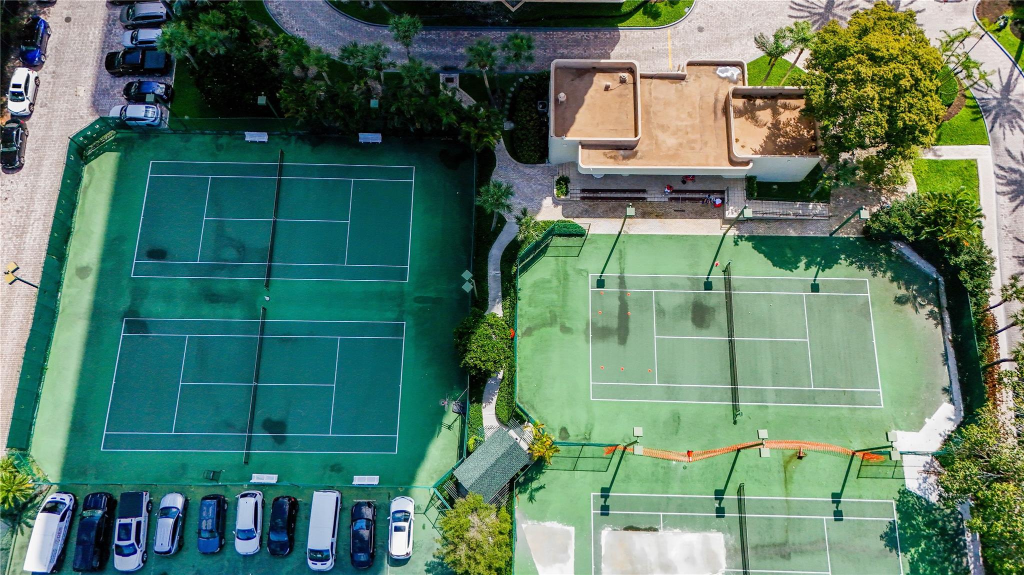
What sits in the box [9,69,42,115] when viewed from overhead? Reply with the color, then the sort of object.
white car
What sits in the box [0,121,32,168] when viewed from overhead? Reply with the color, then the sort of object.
black car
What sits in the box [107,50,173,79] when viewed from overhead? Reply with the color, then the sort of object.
black truck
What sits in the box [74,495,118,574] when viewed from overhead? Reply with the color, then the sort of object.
black truck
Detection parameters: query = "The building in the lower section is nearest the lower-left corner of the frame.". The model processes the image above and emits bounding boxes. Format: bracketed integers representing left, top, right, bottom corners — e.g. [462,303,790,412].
[440,412,536,507]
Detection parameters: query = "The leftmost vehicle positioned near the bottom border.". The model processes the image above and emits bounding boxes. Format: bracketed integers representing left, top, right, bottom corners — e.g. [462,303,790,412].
[17,492,80,575]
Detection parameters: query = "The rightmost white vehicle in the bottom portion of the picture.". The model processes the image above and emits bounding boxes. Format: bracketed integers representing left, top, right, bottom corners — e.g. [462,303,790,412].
[387,497,416,560]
